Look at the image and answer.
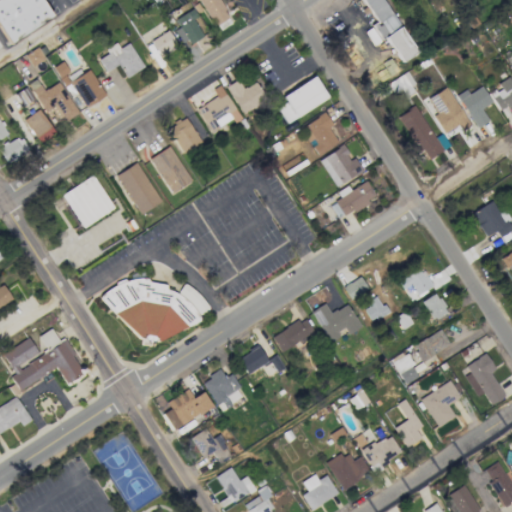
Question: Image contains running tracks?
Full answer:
No, the photo shows no running track.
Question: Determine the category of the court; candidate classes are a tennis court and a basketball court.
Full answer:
What you see as the court is a basketball court.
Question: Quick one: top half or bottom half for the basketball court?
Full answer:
The bottom half of the photo is where the basketball court is.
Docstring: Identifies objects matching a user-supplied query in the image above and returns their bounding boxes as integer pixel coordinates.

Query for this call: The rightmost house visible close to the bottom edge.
[484,462,512,505]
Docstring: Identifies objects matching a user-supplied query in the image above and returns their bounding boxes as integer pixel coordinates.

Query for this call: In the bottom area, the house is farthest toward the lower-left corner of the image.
[0,398,30,435]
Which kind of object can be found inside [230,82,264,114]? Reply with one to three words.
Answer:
house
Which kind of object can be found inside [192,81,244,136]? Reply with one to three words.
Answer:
house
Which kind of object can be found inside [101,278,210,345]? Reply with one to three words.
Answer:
building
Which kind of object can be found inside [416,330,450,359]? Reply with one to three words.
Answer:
shed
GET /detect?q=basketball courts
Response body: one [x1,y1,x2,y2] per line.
[94,432,163,510]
